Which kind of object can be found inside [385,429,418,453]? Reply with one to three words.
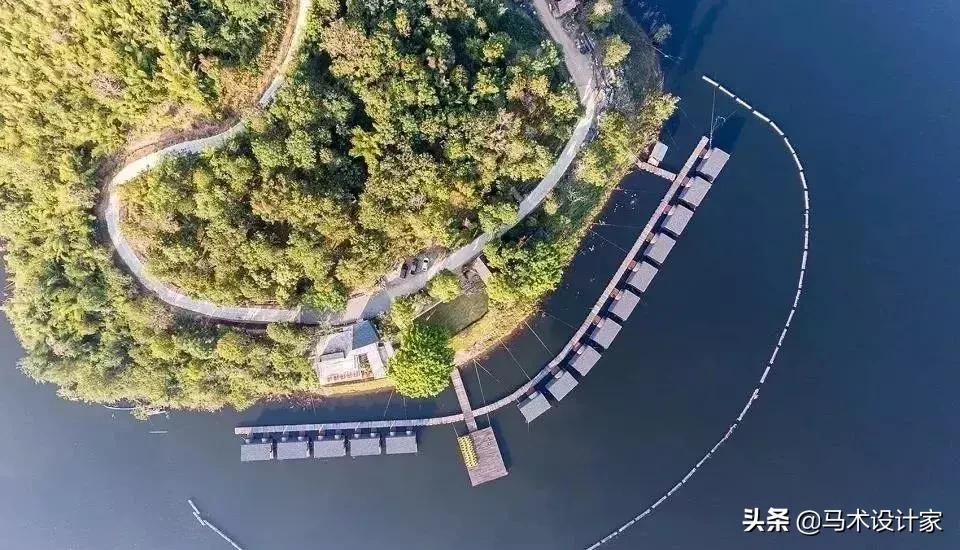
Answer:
building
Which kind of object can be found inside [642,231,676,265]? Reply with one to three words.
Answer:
building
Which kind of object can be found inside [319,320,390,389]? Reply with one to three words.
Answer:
house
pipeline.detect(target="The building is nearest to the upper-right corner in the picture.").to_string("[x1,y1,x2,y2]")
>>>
[693,148,728,183]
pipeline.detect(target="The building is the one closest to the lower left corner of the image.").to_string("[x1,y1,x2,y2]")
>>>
[241,437,276,461]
